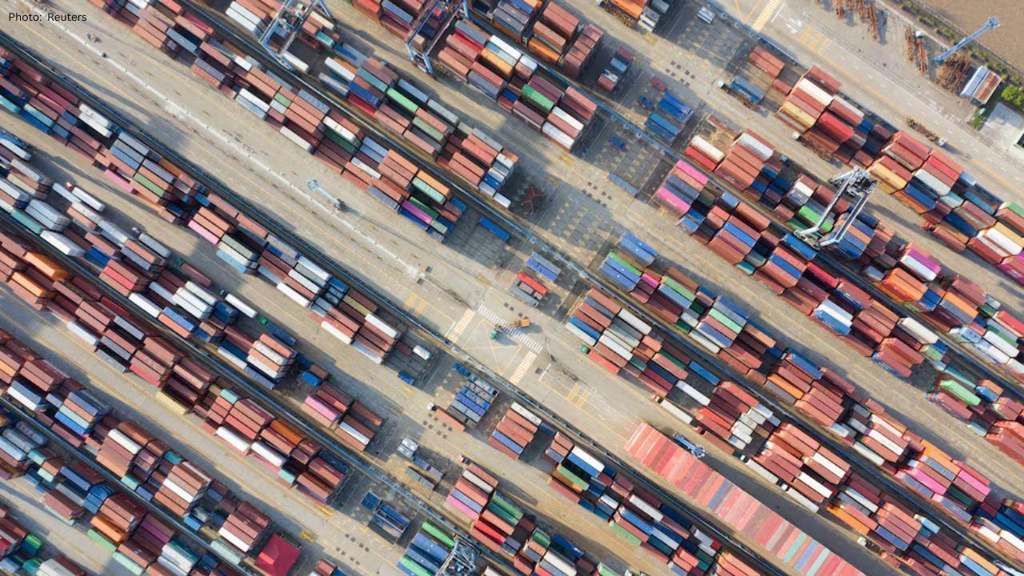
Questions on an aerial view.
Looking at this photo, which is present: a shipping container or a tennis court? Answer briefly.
shipping container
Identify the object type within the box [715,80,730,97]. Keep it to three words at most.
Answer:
vehicle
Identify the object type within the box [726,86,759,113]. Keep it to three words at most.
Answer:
shipping container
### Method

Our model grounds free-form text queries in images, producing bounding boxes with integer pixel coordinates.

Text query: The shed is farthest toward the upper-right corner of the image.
[959,66,999,108]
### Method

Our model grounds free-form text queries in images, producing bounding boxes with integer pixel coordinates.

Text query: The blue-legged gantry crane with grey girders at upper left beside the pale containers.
[257,0,341,74]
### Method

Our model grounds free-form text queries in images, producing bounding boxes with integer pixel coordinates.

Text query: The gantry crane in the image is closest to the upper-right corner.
[793,166,880,251]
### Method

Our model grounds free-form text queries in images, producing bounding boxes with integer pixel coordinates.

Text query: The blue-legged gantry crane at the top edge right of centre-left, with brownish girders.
[399,0,465,82]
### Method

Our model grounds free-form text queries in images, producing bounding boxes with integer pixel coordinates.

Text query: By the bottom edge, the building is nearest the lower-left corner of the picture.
[254,532,305,576]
